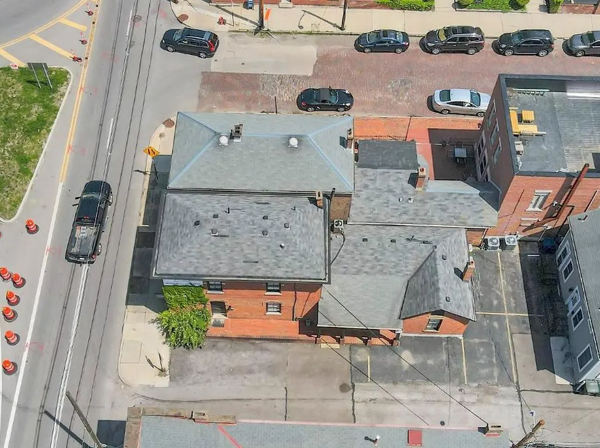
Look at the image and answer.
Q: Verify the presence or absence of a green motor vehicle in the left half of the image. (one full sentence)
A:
No, no green motor vehicle appears in the left half of the image.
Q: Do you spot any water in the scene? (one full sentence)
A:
No, no water is visible.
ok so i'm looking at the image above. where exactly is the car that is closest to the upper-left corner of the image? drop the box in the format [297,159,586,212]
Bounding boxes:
[159,26,221,59]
